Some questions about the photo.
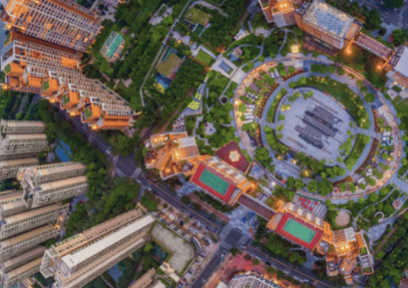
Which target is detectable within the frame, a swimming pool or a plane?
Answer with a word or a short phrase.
swimming pool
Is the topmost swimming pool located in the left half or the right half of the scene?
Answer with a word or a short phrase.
left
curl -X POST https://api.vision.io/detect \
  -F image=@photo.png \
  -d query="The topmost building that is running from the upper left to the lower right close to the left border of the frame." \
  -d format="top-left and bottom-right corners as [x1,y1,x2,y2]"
[0,29,135,127]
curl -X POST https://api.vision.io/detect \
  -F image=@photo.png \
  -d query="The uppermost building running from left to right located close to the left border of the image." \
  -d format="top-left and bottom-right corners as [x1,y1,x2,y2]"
[1,0,105,51]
